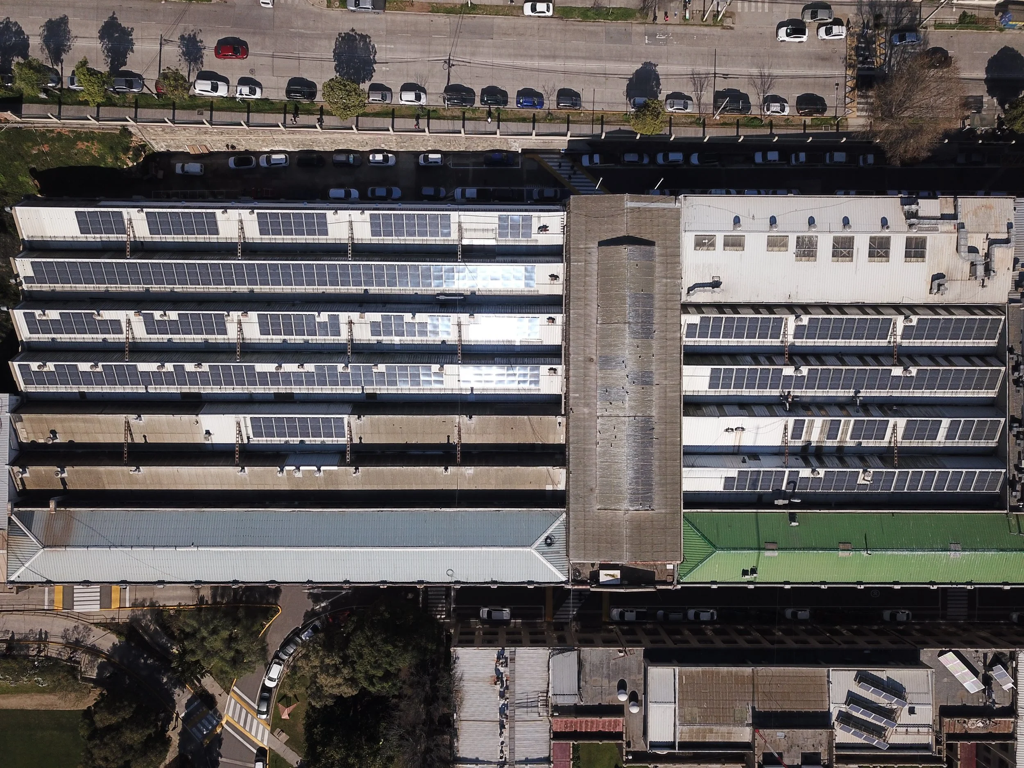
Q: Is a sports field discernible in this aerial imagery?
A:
No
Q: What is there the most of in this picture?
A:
buildings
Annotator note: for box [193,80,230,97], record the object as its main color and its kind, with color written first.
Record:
white car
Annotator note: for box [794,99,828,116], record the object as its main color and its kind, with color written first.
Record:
black car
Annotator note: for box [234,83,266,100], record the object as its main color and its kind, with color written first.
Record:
white car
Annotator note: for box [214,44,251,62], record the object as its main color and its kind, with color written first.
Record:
red car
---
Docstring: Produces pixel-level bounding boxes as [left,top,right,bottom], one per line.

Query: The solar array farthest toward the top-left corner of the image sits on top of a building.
[74,213,126,236]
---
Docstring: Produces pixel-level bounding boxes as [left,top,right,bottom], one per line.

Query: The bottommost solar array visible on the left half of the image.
[250,419,346,440]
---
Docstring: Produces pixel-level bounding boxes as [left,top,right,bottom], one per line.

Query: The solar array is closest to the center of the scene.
[460,369,542,391]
